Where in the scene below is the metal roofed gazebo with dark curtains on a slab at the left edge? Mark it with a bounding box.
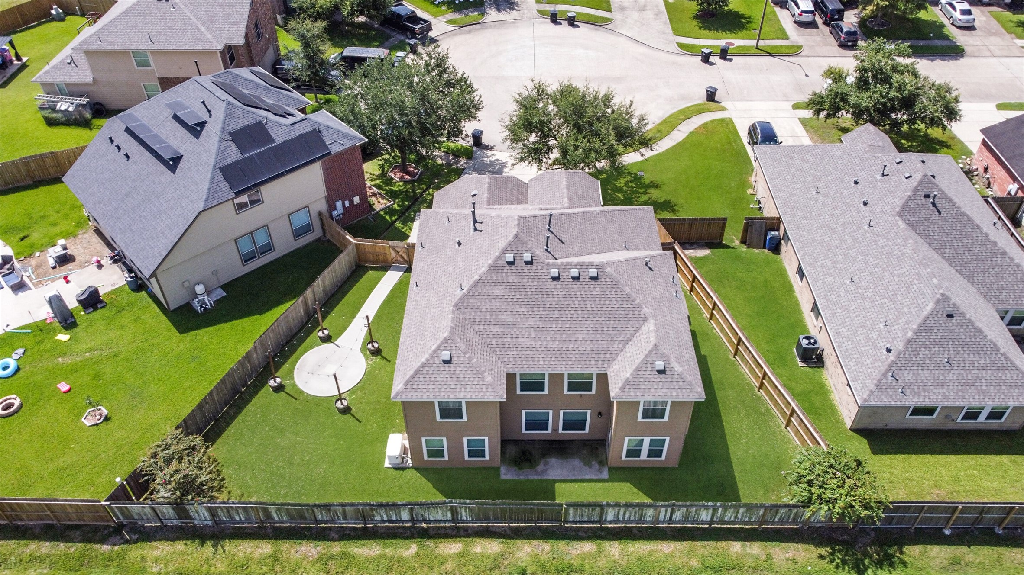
[0,37,29,82]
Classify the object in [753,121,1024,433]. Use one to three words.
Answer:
house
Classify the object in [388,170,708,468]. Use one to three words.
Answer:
house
